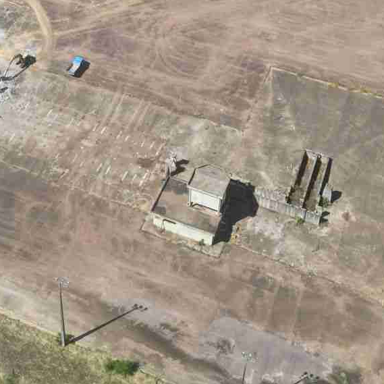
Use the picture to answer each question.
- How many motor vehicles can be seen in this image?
2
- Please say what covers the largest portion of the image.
paved ground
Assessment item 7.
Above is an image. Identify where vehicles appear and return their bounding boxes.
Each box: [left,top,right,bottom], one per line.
[3,49,40,76]
[65,52,89,77]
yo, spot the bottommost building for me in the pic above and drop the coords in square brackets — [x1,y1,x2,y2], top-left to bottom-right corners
[151,164,231,244]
